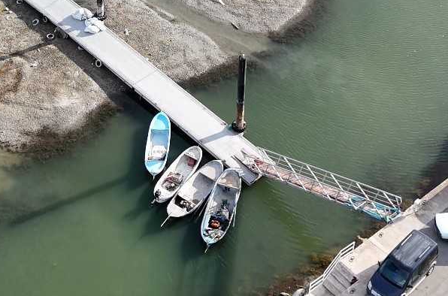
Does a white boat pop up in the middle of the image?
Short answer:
Yes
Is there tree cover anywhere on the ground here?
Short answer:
No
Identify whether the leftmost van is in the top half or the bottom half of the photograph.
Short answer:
bottom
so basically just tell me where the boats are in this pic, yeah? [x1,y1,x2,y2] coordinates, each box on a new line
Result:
[166,159,225,224]
[202,167,245,256]
[153,145,203,212]
[140,110,176,186]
